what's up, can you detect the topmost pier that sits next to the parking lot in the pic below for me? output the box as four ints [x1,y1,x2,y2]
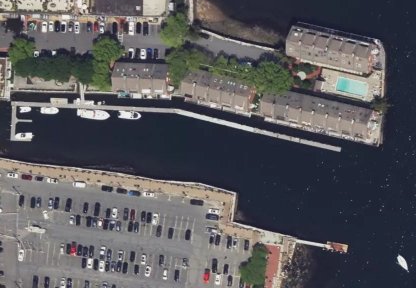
[11,101,174,114]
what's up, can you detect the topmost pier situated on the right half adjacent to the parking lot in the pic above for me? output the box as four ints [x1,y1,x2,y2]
[175,109,342,152]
